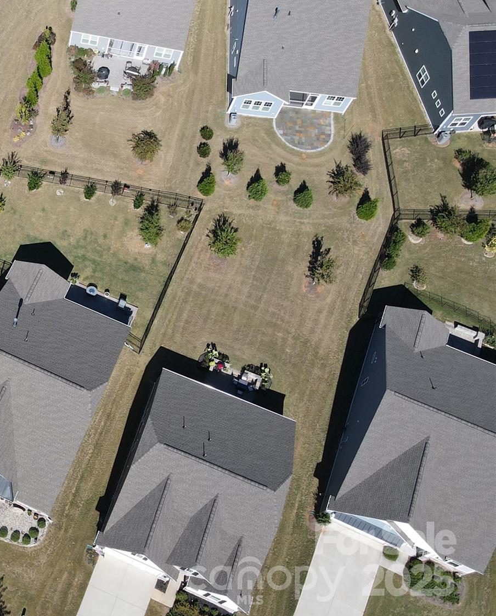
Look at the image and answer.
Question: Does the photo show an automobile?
No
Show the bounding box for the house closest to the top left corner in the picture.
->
[69,0,194,68]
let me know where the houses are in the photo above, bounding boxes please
[0,260,132,520]
[223,0,370,121]
[391,0,496,129]
[90,367,296,615]
[69,0,194,68]
[318,305,496,585]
